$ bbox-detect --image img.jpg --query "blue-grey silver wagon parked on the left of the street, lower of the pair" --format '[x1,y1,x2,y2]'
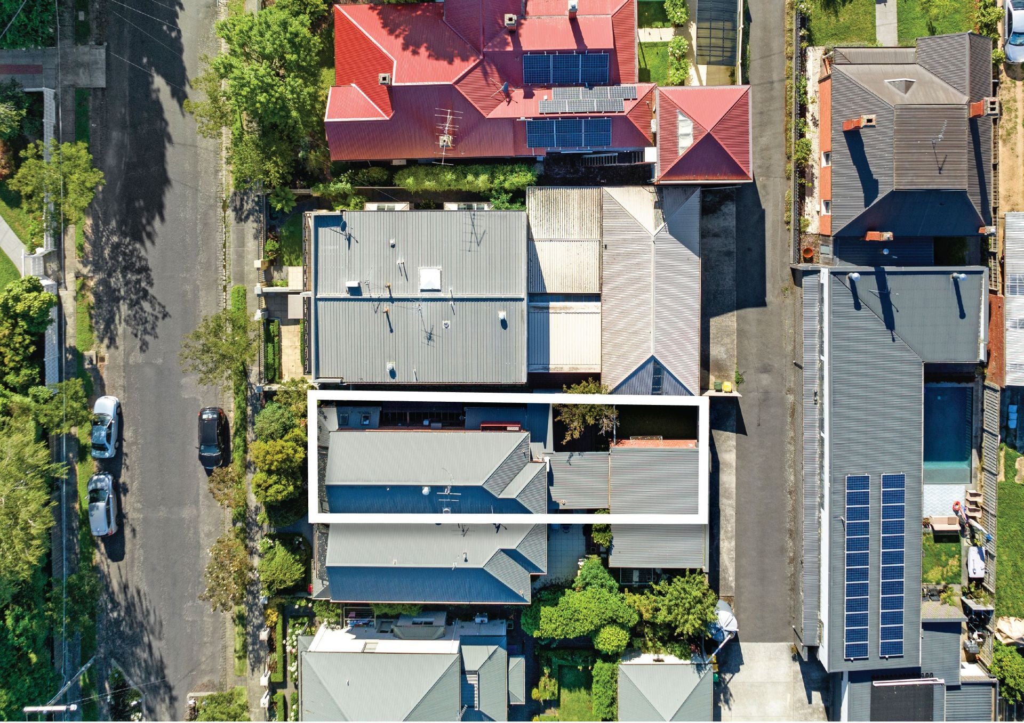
[88,475,120,540]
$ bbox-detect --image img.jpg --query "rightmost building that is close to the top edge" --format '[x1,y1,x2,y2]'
[819,31,998,241]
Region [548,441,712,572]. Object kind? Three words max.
building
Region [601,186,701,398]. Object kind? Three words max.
building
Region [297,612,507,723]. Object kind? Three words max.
house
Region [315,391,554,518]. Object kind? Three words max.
house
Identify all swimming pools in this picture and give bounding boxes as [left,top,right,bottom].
[923,382,975,488]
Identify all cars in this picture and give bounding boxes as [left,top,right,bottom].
[89,397,123,460]
[1001,2,1024,65]
[88,475,120,540]
[196,407,229,469]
